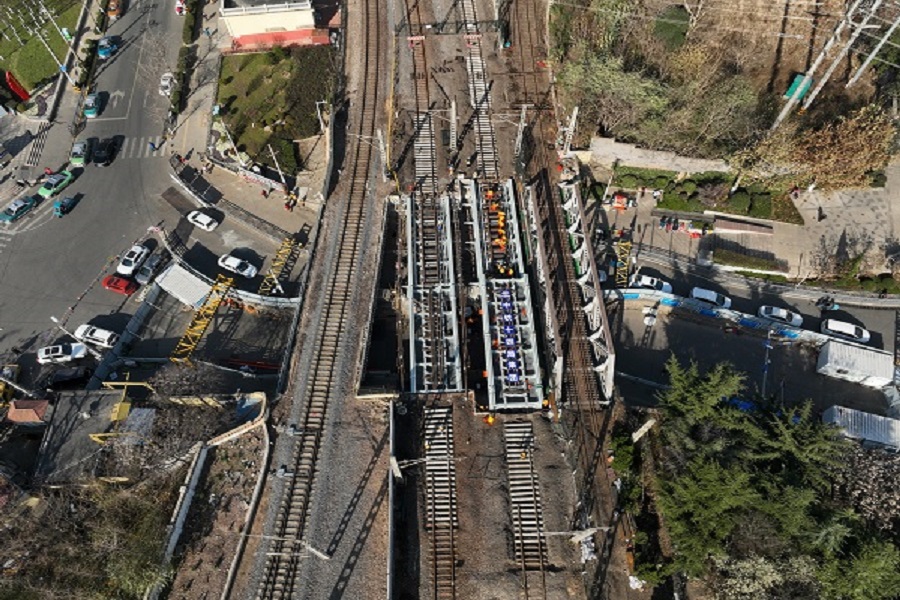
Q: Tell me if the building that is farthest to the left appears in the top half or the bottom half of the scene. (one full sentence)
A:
It is in the bottom half that the building that is farthest to the left appears.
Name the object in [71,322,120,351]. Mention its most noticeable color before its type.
white car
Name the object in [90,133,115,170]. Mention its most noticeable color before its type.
black car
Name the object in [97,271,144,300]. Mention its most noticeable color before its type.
red car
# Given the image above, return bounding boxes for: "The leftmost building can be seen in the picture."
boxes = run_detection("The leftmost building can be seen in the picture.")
[5,398,53,424]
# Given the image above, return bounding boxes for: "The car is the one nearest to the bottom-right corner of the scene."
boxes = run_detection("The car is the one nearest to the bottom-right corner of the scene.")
[817,314,873,347]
